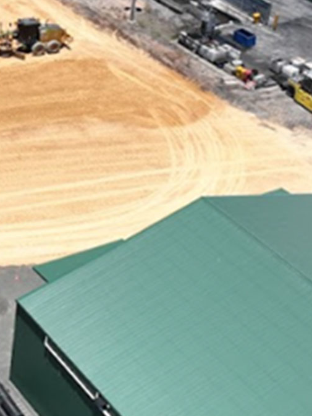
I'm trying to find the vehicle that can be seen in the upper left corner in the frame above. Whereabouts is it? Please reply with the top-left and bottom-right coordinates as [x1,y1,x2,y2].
[0,10,70,61]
